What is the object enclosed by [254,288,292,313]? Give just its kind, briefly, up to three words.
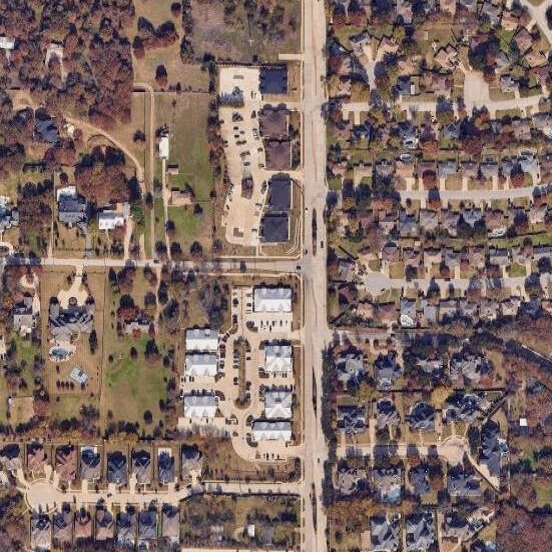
building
